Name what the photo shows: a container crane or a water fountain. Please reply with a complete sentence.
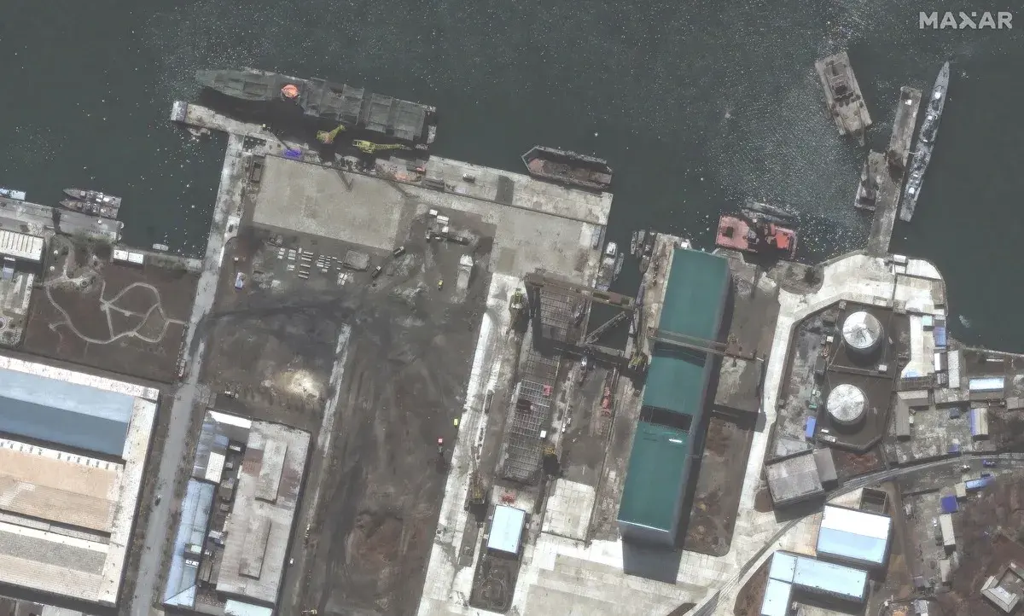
This aerial view contains a container crane.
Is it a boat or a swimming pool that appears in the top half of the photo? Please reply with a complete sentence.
The one visible in the top half of the photo is a boat.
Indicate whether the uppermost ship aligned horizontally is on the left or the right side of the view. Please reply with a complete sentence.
You can find the uppermost ship aligned horizontally on the left side of the picture.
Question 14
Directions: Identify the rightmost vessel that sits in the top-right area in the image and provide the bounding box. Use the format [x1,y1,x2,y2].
[898,60,948,224]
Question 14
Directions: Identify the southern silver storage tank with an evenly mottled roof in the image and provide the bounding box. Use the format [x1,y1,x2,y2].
[827,385,867,428]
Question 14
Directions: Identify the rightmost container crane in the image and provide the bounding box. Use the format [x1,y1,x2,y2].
[646,324,763,394]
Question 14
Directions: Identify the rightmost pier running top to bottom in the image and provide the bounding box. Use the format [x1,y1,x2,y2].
[867,87,922,256]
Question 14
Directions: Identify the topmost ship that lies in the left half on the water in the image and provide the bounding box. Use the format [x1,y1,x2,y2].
[195,69,431,146]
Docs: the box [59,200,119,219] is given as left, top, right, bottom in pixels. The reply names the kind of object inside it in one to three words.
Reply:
boat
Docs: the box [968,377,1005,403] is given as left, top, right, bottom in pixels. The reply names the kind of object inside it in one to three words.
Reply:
house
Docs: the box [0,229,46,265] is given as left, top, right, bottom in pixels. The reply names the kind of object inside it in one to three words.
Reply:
building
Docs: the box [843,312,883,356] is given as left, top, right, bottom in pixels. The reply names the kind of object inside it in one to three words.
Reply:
storage tank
